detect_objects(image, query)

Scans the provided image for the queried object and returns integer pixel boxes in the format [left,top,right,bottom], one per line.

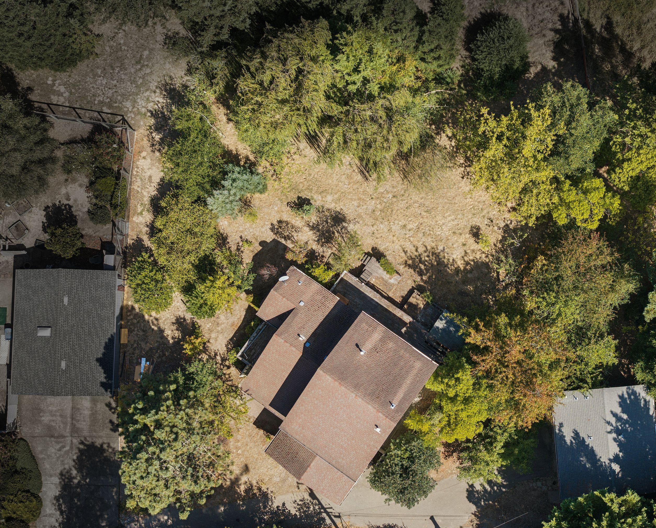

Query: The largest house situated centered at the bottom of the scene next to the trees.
[239,265,438,506]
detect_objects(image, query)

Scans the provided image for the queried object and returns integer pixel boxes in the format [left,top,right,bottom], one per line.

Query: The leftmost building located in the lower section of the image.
[9,268,122,398]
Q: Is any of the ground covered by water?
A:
No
